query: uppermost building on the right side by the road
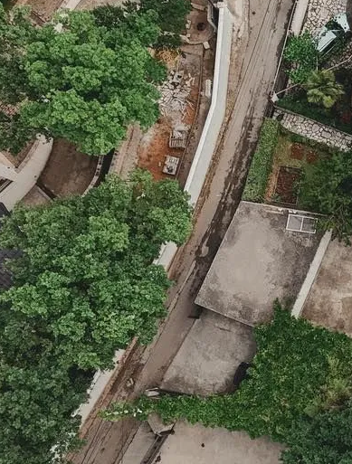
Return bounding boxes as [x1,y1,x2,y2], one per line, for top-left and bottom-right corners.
[195,200,329,327]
